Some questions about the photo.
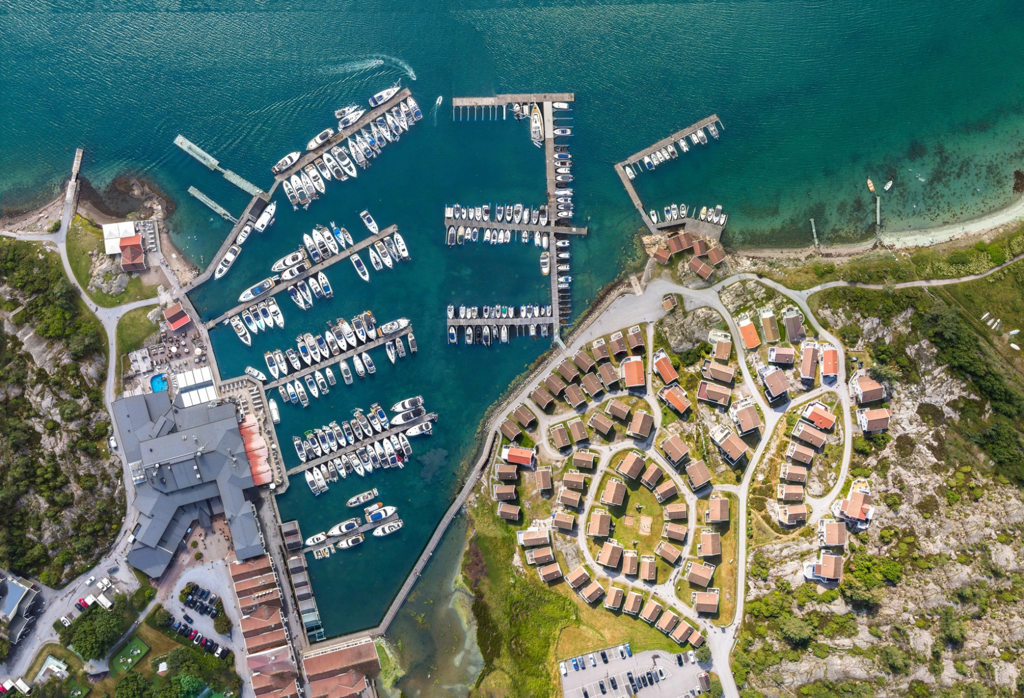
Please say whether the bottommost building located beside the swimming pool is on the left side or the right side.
left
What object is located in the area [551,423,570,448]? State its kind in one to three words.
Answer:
building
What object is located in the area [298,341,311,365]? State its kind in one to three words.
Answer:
boat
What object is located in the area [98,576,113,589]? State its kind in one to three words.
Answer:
vehicle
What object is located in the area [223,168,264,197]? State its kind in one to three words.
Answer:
pier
